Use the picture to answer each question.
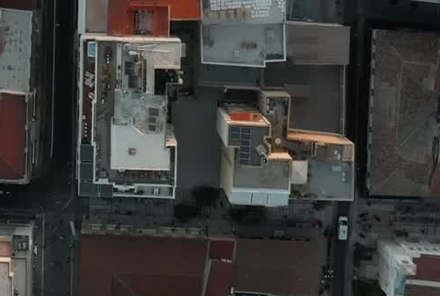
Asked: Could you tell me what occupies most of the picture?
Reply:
buildings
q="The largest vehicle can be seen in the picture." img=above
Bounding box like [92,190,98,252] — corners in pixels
[338,217,350,243]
